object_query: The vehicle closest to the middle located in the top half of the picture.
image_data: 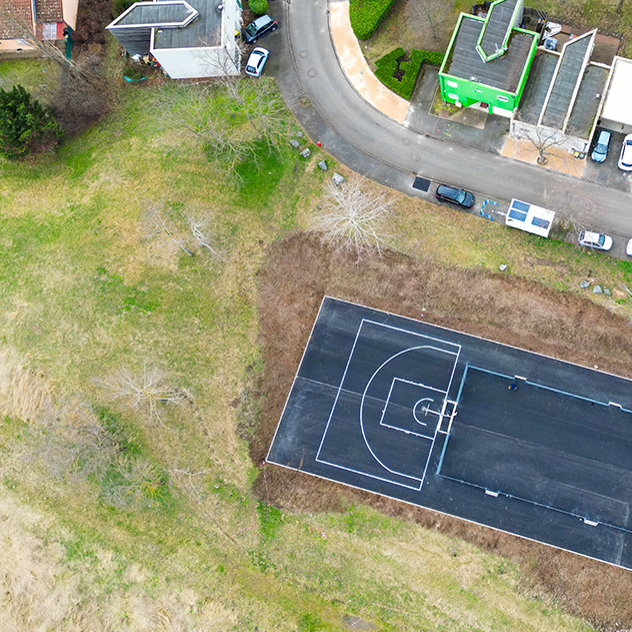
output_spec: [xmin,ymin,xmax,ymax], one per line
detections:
[435,185,475,209]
